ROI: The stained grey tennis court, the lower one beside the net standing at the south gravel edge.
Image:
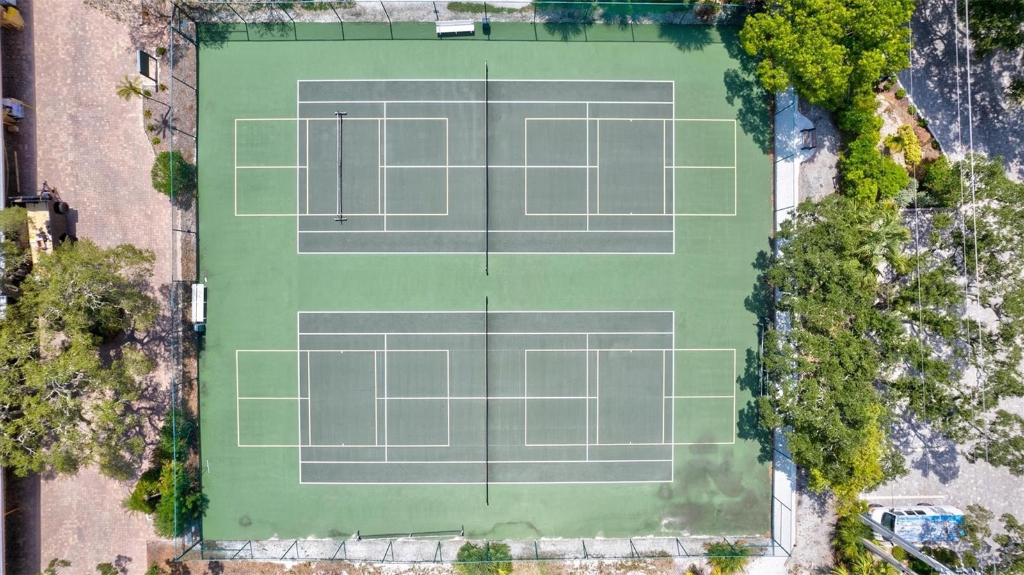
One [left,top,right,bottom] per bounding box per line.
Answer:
[199,283,772,542]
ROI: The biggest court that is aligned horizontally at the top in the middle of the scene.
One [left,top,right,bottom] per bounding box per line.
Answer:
[196,23,772,283]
